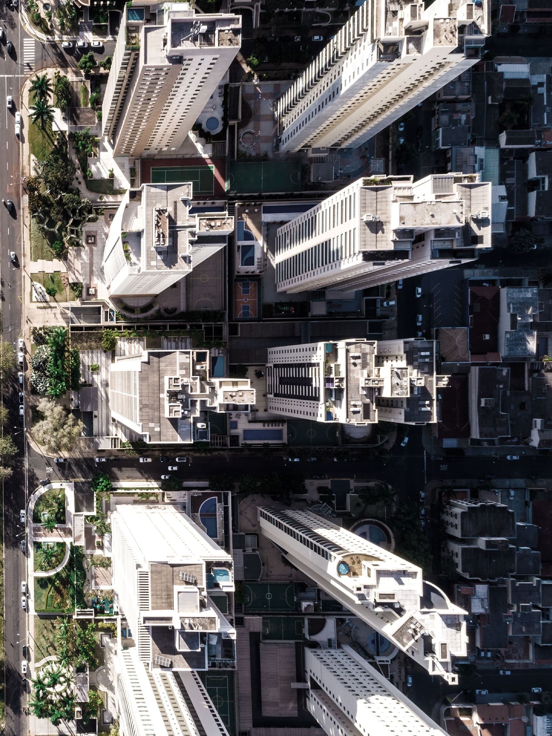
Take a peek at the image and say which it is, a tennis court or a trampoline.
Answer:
tennis court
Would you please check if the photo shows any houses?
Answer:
Yes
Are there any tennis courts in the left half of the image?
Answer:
Yes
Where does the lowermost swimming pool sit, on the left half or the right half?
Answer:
right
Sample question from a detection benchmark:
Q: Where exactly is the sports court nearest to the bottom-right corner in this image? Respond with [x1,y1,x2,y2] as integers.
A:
[262,618,304,640]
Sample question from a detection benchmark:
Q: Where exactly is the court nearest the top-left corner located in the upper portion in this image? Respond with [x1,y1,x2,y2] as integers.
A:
[142,158,226,201]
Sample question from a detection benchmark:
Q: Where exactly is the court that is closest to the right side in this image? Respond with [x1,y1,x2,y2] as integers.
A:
[287,420,339,446]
